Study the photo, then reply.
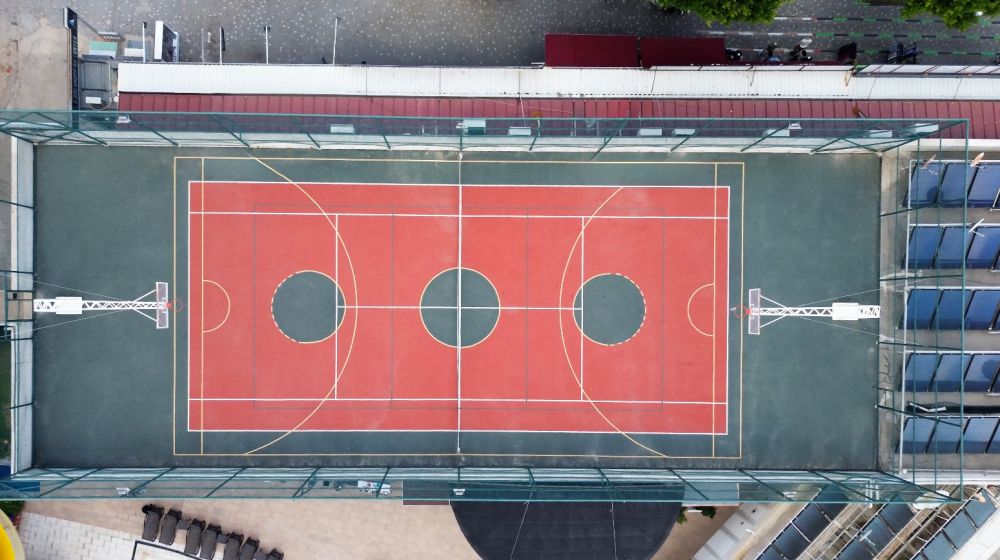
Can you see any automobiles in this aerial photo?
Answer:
No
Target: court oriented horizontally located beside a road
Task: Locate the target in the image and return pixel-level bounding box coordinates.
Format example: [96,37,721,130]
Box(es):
[32,146,882,470]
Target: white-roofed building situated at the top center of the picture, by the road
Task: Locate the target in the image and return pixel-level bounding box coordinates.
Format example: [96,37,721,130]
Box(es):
[32,32,1000,153]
